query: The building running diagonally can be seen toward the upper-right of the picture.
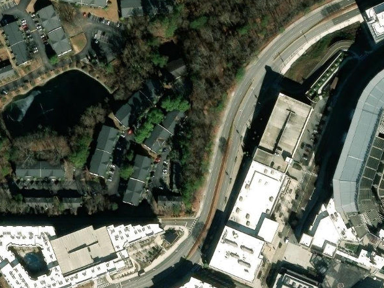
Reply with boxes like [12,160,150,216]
[306,52,346,100]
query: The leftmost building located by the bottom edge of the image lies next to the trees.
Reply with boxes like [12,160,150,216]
[0,225,164,288]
